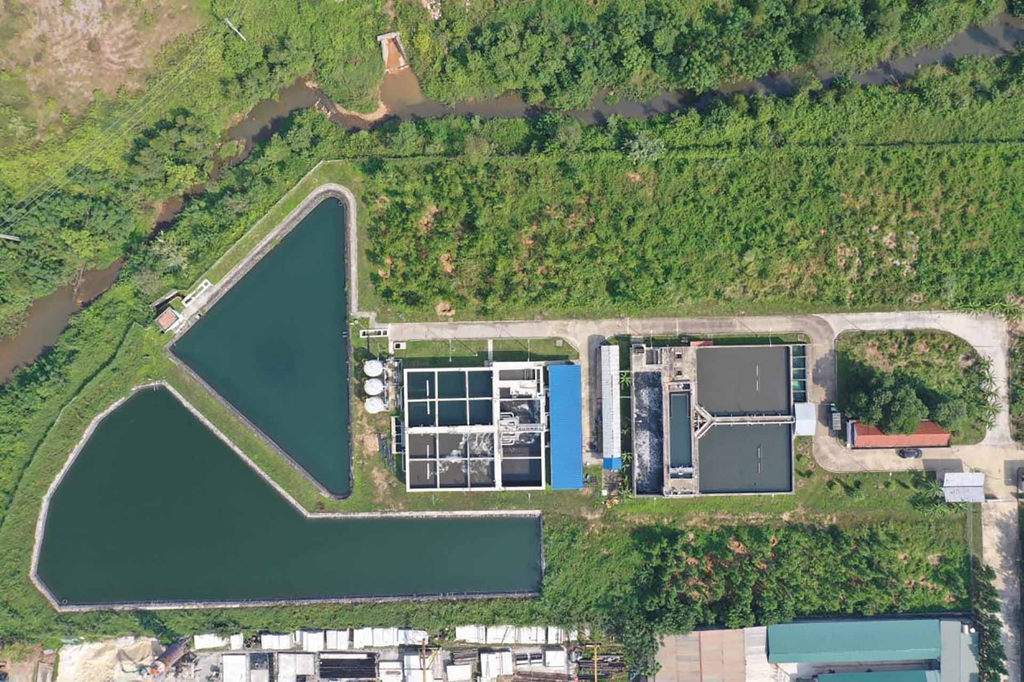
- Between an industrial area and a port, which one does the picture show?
industrial area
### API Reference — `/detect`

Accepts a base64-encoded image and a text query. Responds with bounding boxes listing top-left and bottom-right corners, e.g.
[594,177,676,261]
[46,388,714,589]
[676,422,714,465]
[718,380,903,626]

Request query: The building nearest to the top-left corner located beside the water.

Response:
[155,307,187,331]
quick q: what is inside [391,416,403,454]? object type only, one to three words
water tank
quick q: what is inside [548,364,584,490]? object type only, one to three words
shed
